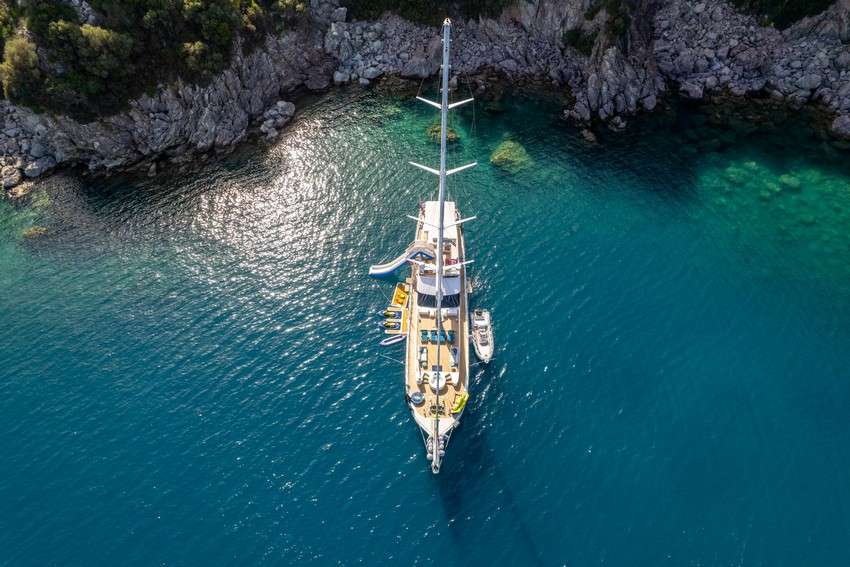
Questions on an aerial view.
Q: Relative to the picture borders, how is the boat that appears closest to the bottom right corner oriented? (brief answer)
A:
vertically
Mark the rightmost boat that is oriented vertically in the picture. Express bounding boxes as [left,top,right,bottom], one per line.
[471,306,493,363]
